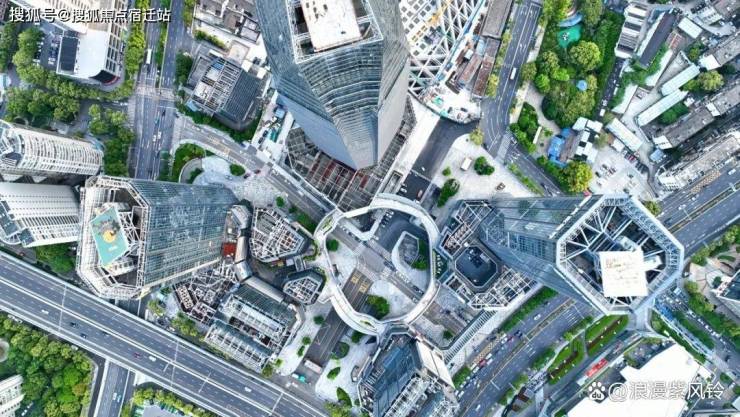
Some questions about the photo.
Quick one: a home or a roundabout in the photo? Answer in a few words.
home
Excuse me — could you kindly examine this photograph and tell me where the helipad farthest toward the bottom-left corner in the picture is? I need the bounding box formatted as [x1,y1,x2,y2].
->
[89,205,135,267]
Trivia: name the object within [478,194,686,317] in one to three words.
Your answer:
building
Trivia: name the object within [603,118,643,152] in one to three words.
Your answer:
shed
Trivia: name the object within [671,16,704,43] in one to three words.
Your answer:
shed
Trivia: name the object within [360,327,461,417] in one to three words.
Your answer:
building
